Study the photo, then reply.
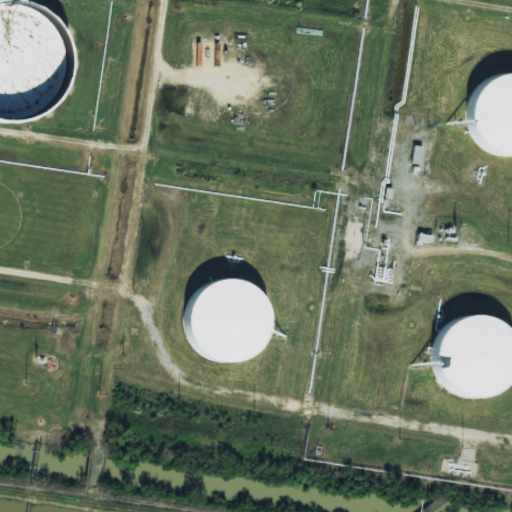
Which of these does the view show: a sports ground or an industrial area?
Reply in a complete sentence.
The picture captures an industrial area.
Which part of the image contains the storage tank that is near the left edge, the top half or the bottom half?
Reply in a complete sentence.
The storage tank that is near the left edge is in the top half of the image.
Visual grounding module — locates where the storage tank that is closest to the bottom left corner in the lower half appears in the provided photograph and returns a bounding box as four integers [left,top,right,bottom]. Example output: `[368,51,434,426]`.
[182,276,288,366]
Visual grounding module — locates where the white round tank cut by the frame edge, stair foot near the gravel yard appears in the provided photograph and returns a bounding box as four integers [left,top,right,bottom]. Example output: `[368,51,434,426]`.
[444,73,512,161]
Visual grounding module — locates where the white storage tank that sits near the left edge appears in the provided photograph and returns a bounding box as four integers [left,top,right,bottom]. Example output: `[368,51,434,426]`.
[0,0,78,125]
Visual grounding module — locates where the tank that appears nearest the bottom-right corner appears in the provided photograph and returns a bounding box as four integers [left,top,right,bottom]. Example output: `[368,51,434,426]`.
[409,314,512,402]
